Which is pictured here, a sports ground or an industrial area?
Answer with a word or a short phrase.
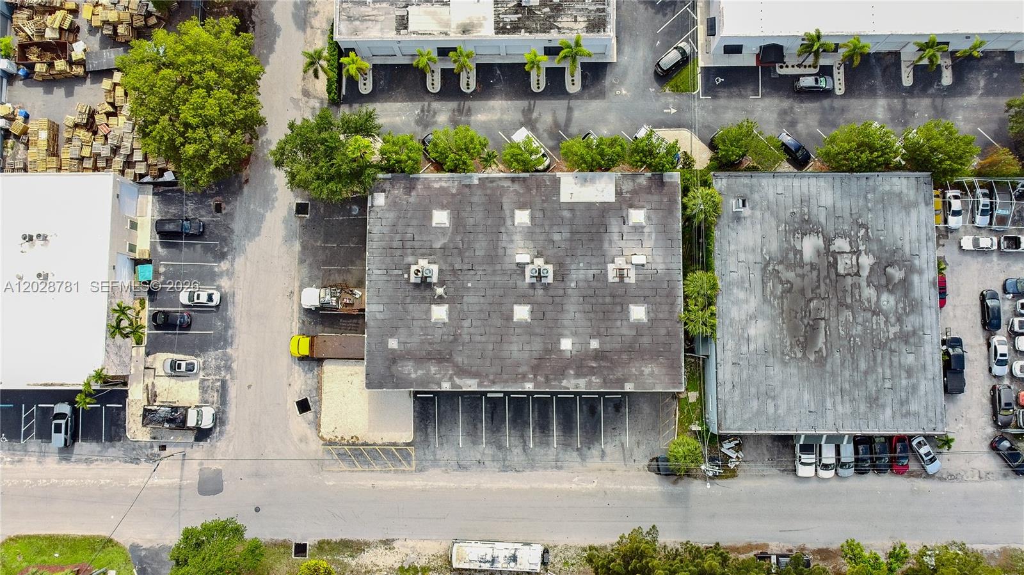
industrial area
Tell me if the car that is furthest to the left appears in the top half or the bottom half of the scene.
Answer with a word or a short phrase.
bottom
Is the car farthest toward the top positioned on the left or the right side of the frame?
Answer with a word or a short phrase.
right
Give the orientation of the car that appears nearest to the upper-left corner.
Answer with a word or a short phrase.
from left to right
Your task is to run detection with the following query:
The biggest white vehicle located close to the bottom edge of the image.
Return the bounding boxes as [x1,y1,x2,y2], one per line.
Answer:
[450,539,548,572]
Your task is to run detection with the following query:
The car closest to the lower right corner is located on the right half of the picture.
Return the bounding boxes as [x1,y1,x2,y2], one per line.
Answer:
[989,435,1024,477]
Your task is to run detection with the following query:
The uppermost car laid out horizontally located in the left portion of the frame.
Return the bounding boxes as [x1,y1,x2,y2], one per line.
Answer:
[153,215,205,236]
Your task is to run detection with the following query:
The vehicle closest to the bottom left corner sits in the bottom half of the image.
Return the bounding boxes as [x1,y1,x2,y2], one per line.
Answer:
[50,401,75,449]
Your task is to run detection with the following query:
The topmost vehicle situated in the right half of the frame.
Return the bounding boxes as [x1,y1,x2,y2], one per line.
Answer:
[652,40,693,78]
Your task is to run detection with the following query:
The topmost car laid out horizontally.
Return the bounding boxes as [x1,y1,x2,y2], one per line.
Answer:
[792,72,835,93]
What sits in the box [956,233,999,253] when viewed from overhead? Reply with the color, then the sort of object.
white car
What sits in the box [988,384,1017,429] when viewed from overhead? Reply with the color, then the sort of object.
gray car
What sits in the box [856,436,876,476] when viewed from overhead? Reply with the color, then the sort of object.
black car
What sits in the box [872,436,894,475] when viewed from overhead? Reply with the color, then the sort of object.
black car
